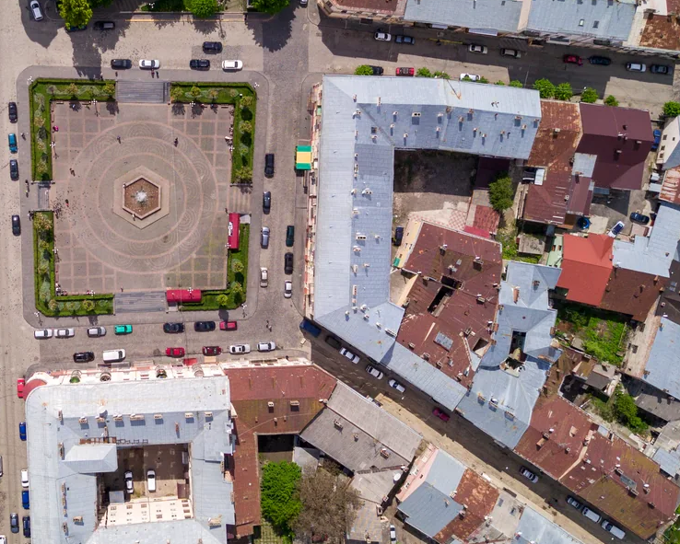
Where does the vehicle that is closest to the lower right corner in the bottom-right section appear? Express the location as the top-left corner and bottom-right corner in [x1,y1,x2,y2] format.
[600,519,624,539]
